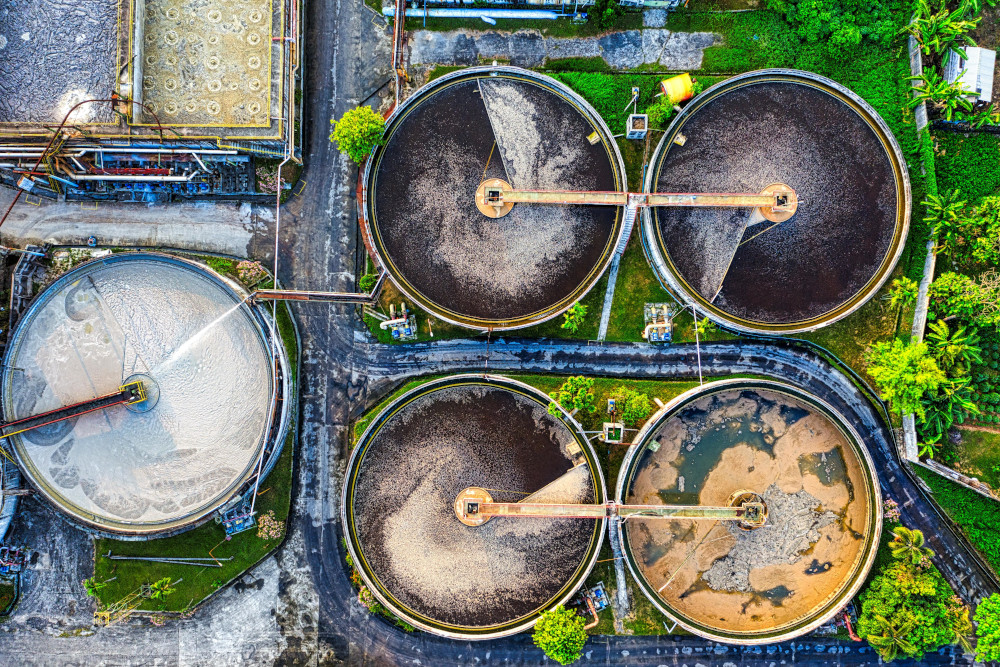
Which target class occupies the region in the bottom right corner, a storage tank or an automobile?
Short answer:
storage tank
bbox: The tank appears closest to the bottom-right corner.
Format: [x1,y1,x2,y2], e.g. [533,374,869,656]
[612,376,884,645]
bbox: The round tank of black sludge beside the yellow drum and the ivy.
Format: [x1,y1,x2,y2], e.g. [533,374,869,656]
[640,68,912,335]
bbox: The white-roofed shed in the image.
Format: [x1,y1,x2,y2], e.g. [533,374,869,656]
[929,46,997,108]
